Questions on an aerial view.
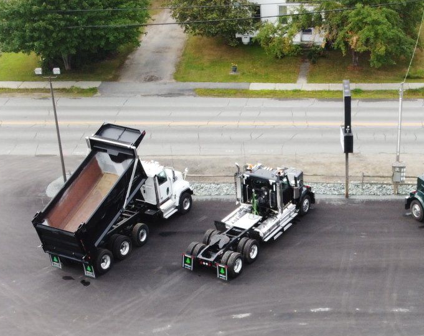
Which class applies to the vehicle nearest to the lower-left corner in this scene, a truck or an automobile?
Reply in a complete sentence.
The vehicle nearest to the lower-left corner appears to be a truck.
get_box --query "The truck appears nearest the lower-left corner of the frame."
[27,119,195,276]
